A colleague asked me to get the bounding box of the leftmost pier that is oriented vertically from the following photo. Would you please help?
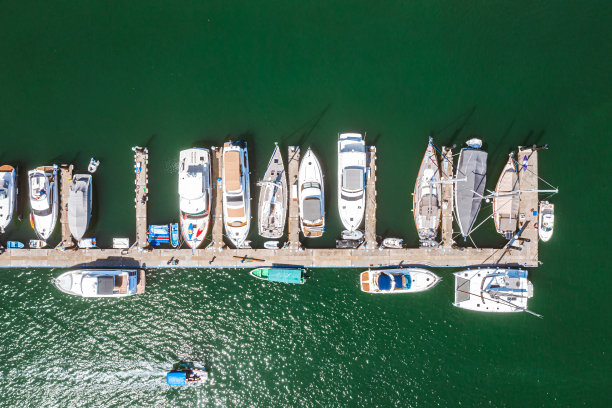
[54,166,80,249]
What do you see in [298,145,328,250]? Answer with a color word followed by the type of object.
white boat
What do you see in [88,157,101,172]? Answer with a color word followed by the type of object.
white boat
